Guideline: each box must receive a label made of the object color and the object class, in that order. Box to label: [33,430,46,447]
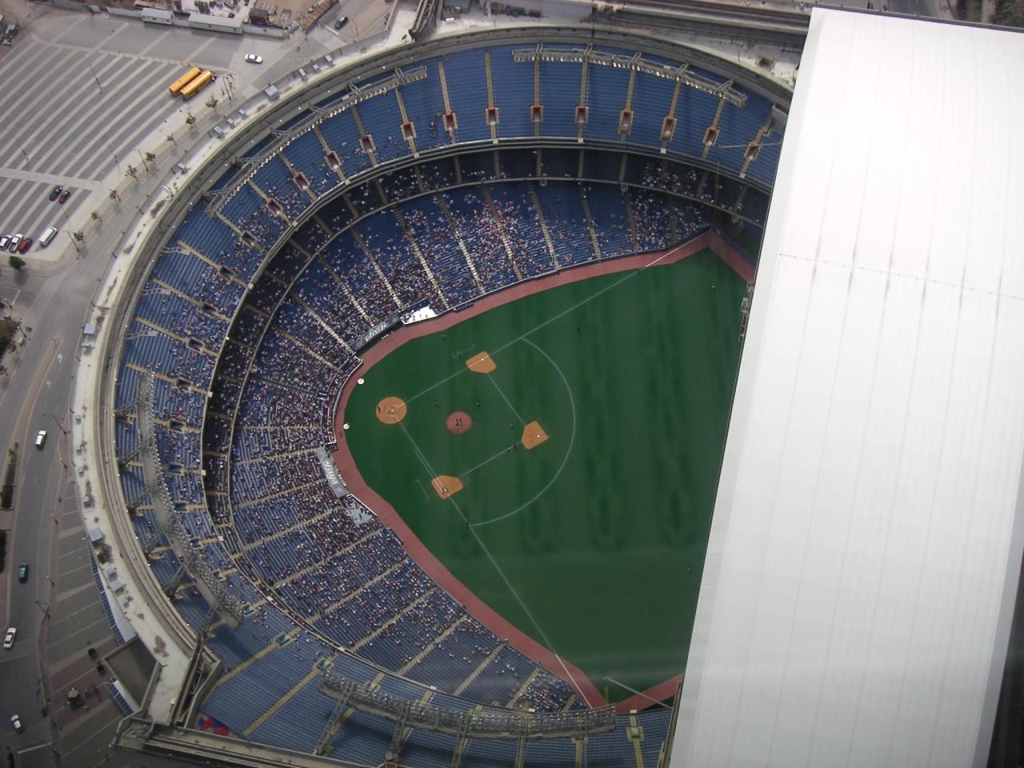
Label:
white vehicle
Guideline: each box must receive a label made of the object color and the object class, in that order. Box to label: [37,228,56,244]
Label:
white vehicle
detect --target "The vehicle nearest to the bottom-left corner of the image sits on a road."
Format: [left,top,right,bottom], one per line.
[10,713,23,731]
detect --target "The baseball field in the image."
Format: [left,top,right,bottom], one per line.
[331,233,754,704]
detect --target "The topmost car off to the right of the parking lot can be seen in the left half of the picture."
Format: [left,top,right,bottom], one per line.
[333,16,348,28]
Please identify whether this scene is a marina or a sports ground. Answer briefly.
sports ground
